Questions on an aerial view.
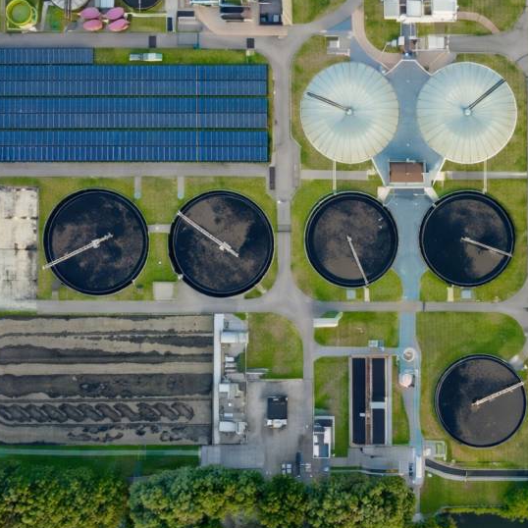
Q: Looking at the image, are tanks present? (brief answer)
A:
Yes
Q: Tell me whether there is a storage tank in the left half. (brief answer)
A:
Yes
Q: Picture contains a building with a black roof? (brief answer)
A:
Yes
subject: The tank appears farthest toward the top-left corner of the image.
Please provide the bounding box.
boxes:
[7,0,41,31]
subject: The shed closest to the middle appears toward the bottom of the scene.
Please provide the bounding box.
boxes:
[221,329,250,343]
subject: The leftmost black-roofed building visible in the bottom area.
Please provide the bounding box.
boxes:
[268,395,289,419]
